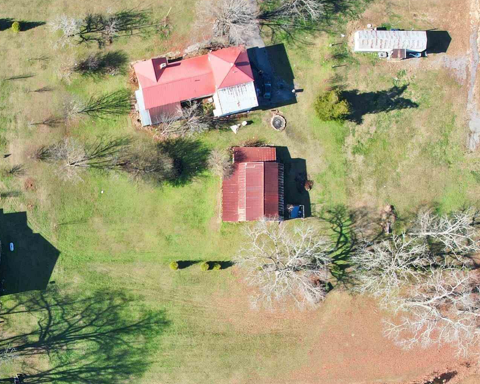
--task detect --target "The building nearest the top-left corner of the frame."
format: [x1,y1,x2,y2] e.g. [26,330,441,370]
[133,45,258,126]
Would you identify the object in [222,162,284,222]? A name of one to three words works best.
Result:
barn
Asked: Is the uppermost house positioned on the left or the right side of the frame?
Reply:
right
